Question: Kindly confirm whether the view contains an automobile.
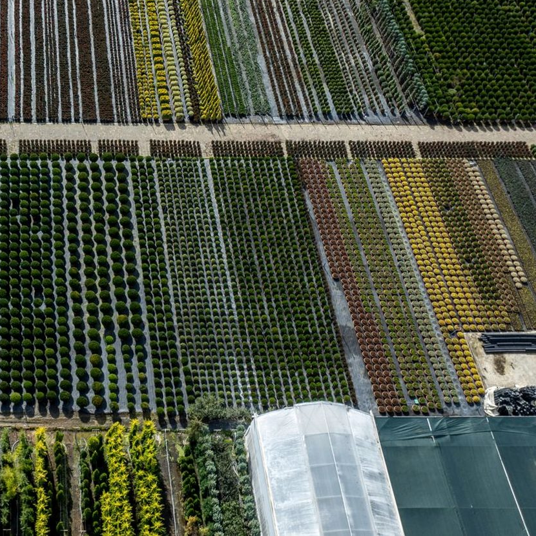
No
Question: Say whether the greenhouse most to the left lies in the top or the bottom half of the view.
bottom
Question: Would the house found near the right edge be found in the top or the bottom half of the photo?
bottom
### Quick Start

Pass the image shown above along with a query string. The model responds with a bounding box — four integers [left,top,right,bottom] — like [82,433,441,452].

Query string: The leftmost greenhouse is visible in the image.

[242,408,403,536]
